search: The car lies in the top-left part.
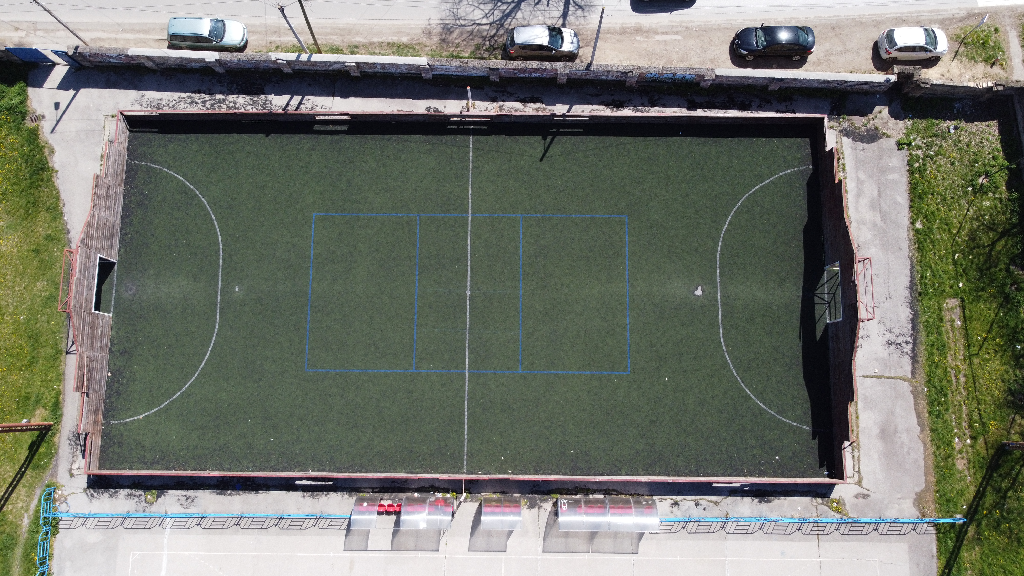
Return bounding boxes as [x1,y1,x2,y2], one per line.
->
[163,13,246,51]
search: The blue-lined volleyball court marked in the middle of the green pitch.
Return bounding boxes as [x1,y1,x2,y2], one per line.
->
[306,214,629,373]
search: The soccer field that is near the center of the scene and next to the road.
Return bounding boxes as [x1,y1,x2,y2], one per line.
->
[93,121,841,478]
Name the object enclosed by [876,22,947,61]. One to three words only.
car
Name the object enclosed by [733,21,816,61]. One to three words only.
car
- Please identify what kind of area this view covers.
sports ground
